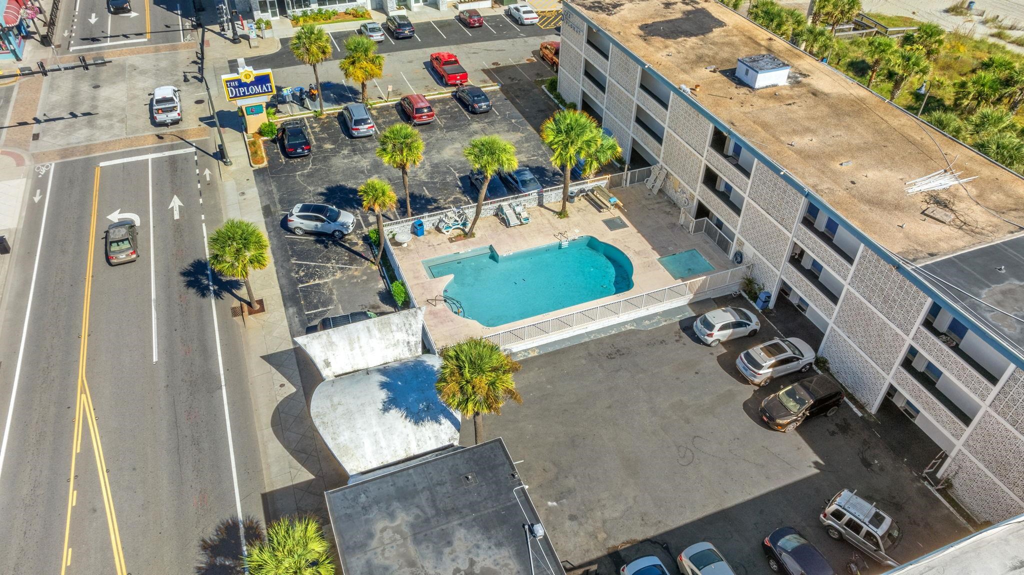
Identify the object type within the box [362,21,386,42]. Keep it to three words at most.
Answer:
car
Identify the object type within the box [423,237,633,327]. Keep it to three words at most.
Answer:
swimming pool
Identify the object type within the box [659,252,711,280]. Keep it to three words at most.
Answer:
swimming pool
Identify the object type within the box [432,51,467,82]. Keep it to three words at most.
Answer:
truck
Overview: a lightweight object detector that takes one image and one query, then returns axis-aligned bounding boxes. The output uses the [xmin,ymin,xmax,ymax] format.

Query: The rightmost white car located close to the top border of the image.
[507,3,536,24]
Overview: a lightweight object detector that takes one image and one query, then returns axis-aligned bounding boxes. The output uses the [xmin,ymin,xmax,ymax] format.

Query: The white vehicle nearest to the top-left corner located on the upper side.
[148,85,180,121]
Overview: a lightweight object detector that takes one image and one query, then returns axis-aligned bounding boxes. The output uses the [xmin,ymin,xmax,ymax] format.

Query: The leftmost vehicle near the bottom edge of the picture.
[623,549,672,575]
